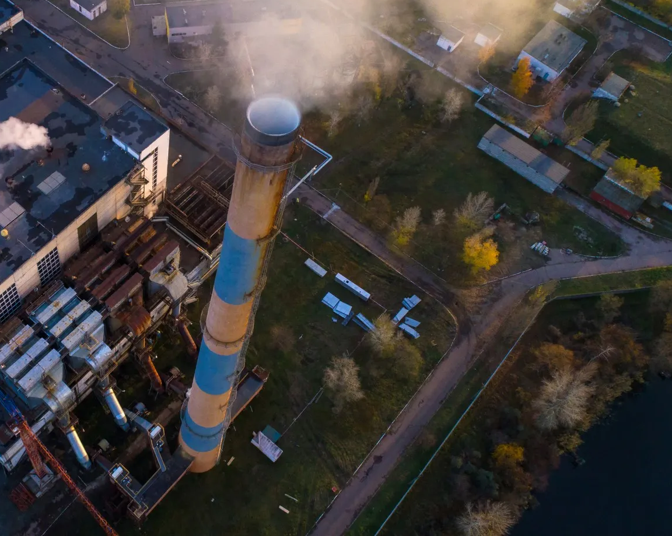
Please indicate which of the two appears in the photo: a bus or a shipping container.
shipping container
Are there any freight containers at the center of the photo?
Yes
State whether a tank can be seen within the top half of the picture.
No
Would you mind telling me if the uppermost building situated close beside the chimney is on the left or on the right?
left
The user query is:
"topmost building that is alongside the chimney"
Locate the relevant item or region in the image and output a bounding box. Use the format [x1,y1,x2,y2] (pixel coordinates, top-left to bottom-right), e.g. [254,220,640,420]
[164,0,303,42]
